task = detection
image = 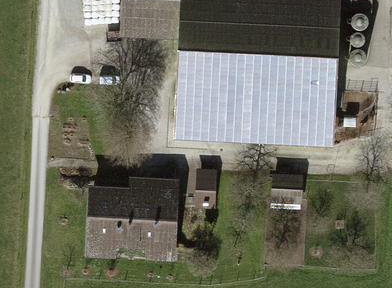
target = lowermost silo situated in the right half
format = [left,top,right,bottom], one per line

[344,44,366,66]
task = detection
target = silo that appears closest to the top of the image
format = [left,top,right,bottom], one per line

[345,10,369,32]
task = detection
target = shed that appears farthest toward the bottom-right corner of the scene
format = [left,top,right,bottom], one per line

[270,172,304,210]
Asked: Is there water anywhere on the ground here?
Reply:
No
